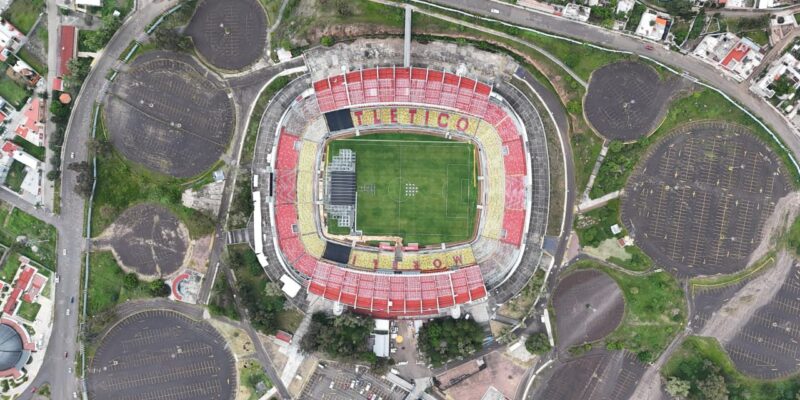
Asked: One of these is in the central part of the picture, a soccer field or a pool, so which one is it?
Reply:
soccer field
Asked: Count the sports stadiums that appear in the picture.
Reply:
one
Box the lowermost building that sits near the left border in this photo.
[0,315,40,379]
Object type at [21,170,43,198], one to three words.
house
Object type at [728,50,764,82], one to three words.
house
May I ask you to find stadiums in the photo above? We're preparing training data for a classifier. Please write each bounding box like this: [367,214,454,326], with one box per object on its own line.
[225,55,561,321]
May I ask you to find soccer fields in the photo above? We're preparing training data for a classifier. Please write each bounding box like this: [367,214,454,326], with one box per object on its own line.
[323,132,478,242]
